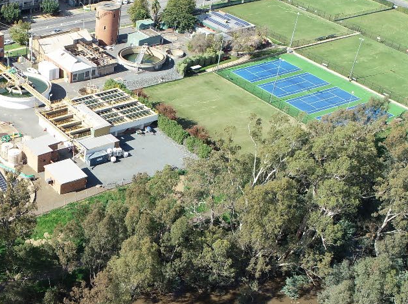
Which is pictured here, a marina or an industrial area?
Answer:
industrial area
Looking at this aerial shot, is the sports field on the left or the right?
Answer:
right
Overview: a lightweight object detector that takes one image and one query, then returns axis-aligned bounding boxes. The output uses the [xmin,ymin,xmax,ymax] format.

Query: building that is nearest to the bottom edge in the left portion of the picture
[43,158,88,193]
